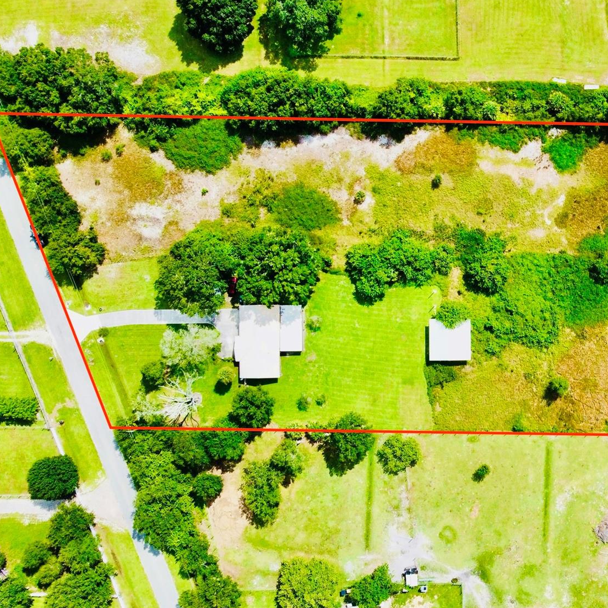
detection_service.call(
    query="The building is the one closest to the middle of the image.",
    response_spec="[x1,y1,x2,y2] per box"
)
[235,305,304,378]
